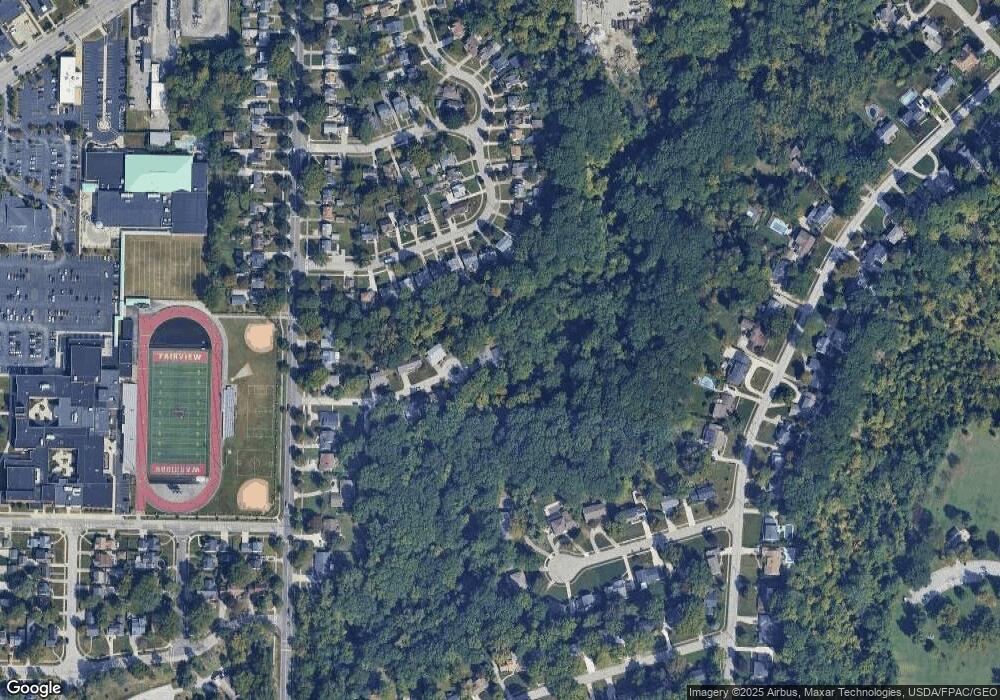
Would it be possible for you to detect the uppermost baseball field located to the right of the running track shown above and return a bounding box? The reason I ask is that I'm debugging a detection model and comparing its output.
[244,321,276,353]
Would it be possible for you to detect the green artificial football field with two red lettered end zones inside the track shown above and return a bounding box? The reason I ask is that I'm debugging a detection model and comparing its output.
[148,351,212,475]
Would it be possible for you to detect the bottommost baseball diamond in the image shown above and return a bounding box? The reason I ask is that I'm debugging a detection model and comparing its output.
[236,477,271,512]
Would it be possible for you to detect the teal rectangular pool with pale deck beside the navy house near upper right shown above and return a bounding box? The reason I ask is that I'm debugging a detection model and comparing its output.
[899,89,919,106]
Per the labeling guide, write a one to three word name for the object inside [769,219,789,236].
swimming pool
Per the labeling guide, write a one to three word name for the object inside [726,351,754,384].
house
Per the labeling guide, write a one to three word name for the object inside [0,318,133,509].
building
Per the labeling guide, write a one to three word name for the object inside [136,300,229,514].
running track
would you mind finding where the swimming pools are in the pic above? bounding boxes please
[866,103,879,120]
[769,219,789,236]
[700,377,712,388]
[899,89,919,106]
[782,550,794,564]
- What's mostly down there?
trees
